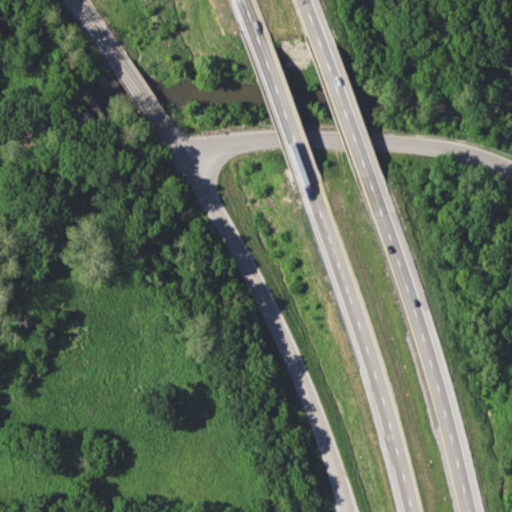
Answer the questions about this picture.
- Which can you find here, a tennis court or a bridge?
bridge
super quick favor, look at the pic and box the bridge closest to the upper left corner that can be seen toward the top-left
[109,54,168,128]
